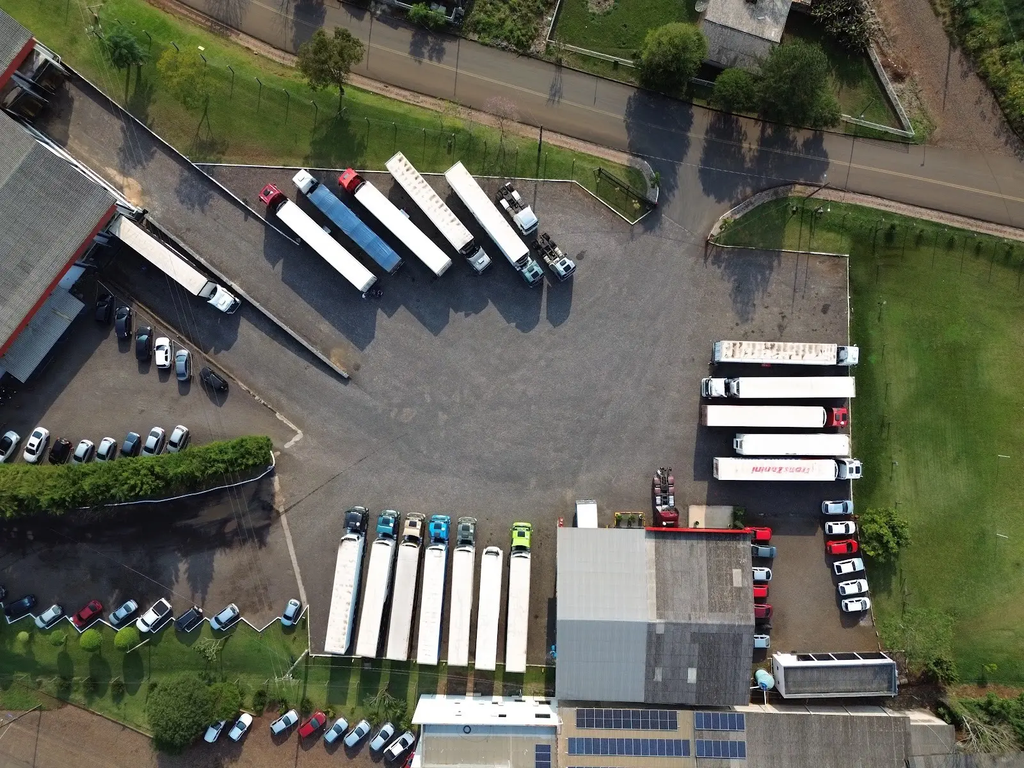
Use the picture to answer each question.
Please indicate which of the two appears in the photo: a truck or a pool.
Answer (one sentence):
I can see a truck in this picture.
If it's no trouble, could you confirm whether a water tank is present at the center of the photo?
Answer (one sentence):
No, I can find no water tank at the center of the photo.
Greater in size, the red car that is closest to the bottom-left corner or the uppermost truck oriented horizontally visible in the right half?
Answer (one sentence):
The larger object is the truck, with the car being the smaller of the pair.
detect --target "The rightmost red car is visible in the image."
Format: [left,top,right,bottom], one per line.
[824,538,858,554]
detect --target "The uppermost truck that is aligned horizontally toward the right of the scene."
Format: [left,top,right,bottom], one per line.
[713,339,857,368]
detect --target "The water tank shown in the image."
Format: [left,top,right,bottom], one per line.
[751,659,776,692]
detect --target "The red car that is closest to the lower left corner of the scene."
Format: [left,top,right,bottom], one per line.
[69,596,107,629]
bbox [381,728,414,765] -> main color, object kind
white truck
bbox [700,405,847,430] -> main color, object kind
white truck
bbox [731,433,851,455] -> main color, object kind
white trailer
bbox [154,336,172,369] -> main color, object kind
white car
